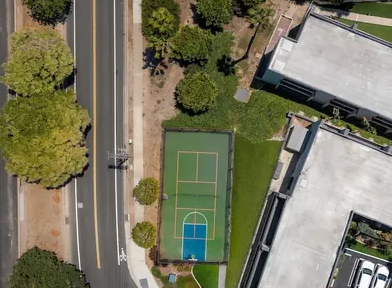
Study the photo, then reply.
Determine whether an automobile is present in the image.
Yes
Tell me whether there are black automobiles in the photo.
No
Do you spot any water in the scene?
No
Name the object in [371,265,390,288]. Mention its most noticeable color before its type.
white car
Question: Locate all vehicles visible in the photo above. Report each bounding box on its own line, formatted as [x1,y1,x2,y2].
[371,265,390,288]
[354,260,376,288]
